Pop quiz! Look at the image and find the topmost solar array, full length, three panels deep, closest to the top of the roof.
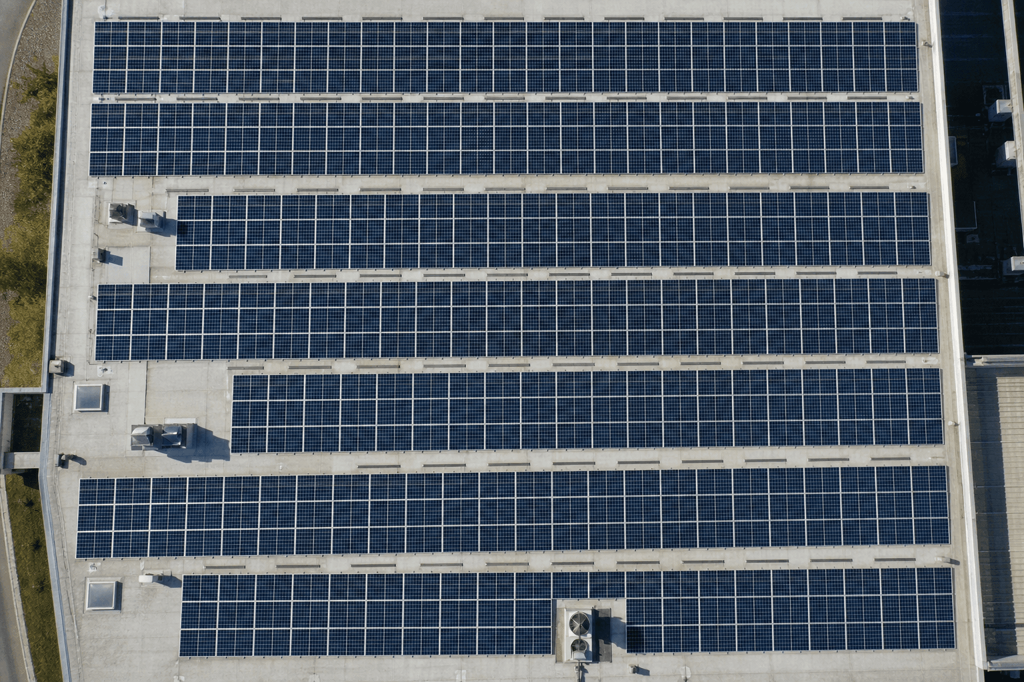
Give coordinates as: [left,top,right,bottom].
[92,22,919,95]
